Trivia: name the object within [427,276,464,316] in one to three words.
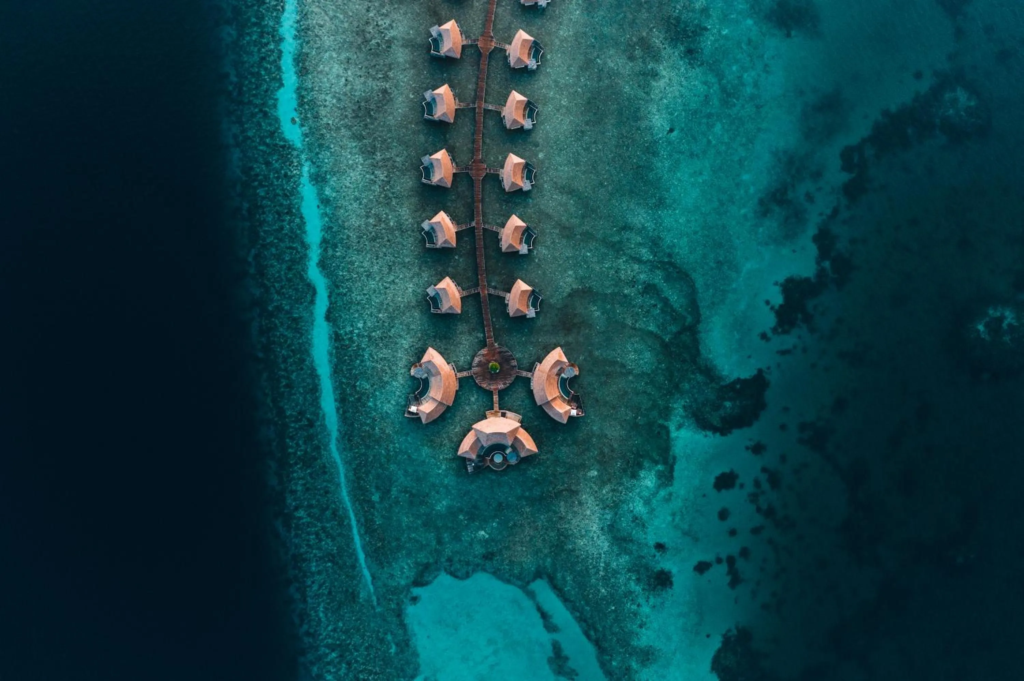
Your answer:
house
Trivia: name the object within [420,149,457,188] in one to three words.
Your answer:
house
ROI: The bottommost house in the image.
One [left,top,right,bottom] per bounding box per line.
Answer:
[457,410,538,474]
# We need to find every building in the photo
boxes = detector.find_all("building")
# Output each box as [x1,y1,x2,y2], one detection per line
[500,90,538,130]
[404,347,459,424]
[506,29,544,70]
[422,83,460,124]
[422,210,458,251]
[504,279,543,317]
[498,152,536,191]
[457,410,538,474]
[498,214,537,253]
[420,149,457,188]
[530,347,584,424]
[427,276,464,316]
[429,19,466,60]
